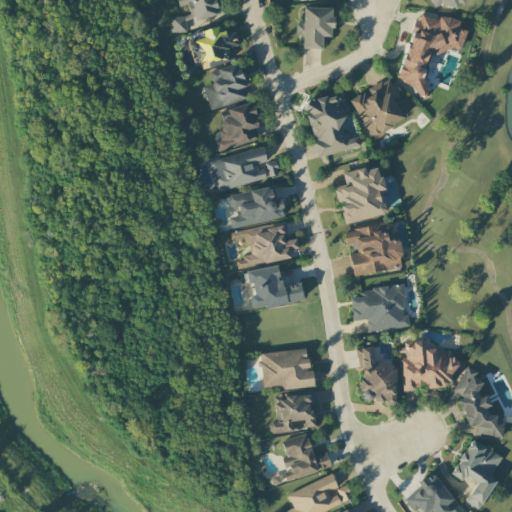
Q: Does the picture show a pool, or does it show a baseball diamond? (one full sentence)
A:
This aerial view contains a pool.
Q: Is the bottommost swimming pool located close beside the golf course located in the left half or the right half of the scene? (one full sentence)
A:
It is on the right.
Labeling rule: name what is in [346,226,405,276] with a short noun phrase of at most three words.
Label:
house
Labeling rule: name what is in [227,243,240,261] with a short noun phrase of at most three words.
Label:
swimming pool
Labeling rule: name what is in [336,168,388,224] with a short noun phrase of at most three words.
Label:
house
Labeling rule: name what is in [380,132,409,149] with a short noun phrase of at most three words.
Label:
swimming pool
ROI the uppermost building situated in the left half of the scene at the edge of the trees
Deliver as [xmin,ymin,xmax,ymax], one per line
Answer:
[172,0,222,34]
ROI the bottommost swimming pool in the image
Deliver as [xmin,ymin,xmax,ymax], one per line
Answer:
[262,454,286,479]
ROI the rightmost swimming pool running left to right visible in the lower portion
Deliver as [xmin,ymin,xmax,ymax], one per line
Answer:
[421,330,460,349]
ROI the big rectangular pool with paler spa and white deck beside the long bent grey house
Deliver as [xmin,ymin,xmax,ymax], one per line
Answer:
[486,372,512,422]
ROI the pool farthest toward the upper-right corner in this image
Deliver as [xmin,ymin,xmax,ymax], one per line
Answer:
[426,50,462,90]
